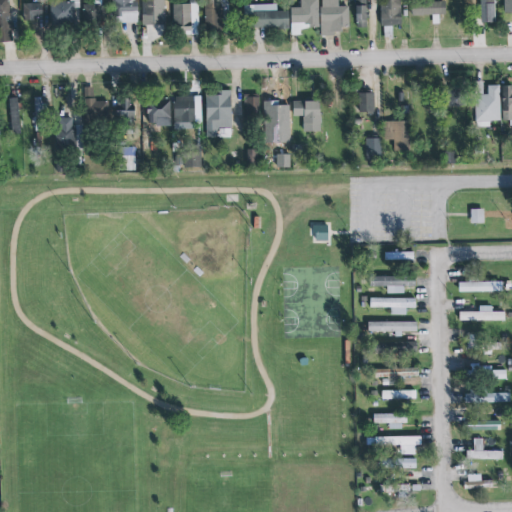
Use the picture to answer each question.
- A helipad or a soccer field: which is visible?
soccer field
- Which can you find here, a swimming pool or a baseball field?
baseball field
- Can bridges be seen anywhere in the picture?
No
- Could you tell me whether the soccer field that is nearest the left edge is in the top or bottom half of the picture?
bottom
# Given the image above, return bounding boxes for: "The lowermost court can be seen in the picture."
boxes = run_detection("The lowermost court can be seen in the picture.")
[284,302,340,338]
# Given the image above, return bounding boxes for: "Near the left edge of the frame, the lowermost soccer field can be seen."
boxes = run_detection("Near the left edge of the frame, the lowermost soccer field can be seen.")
[17,402,138,512]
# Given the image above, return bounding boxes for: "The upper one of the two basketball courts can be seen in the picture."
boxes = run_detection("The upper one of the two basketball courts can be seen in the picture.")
[284,267,340,302]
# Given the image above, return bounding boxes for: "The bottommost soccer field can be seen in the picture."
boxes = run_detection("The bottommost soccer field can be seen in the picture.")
[188,465,271,512]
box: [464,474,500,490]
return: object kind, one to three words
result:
house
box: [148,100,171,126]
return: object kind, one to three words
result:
house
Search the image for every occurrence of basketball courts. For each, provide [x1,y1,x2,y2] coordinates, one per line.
[284,267,340,302]
[284,302,340,338]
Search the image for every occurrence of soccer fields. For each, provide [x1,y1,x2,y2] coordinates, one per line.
[17,402,138,512]
[188,465,271,512]
[78,220,238,378]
